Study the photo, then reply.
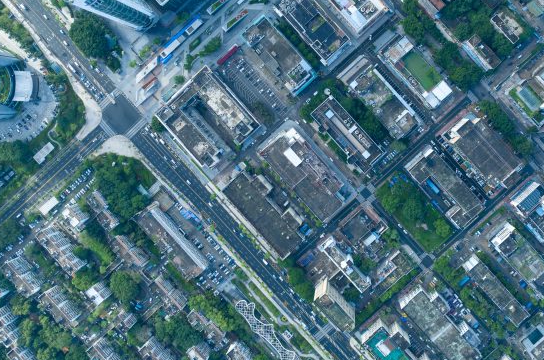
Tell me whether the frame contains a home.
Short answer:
Yes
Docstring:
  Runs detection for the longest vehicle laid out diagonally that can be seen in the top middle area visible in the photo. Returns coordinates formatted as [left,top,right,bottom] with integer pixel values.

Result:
[218,46,238,64]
